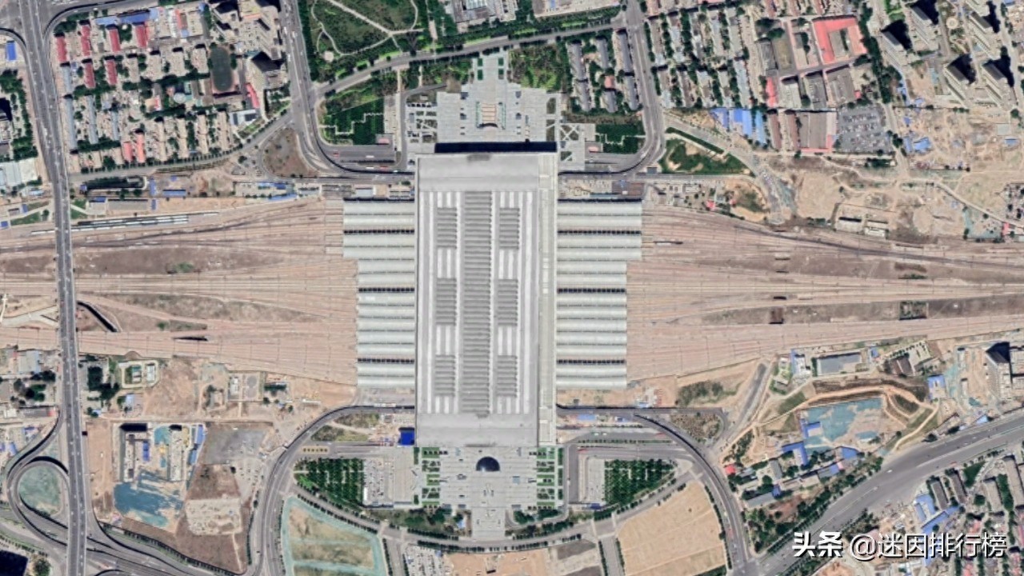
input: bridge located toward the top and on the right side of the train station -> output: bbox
[557,120,659,179]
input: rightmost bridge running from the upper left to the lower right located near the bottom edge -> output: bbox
[557,405,755,576]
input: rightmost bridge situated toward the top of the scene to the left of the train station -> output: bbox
[308,119,413,179]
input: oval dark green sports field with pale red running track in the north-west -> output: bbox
[210,44,237,97]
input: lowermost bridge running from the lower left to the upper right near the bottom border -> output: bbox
[257,404,413,576]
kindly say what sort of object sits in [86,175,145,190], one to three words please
shed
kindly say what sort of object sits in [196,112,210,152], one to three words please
building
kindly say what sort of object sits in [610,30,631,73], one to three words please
building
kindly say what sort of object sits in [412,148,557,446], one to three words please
train station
